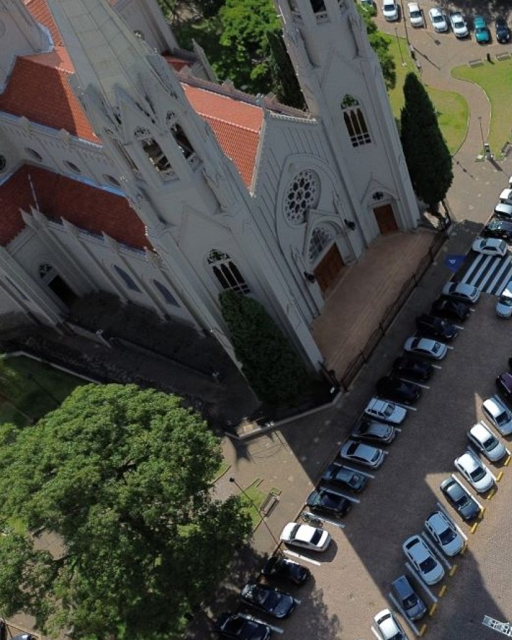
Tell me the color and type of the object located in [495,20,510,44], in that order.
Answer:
black car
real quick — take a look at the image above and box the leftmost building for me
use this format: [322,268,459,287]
[0,0,419,371]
